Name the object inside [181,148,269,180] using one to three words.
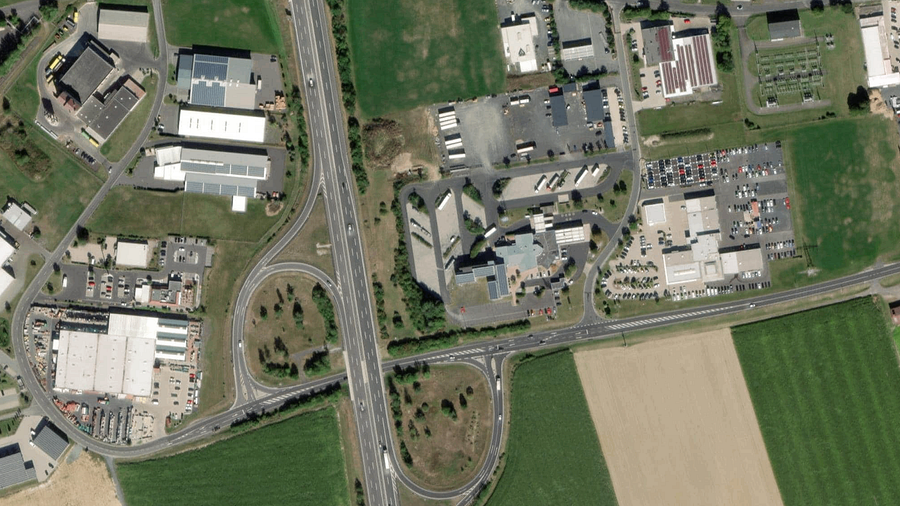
building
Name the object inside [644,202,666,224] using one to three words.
building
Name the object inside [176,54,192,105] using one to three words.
shed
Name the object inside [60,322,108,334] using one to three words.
house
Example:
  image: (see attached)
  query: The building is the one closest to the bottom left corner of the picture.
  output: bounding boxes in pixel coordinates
[0,452,39,490]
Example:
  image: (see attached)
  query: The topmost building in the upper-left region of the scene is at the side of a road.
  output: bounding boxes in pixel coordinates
[98,10,150,43]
